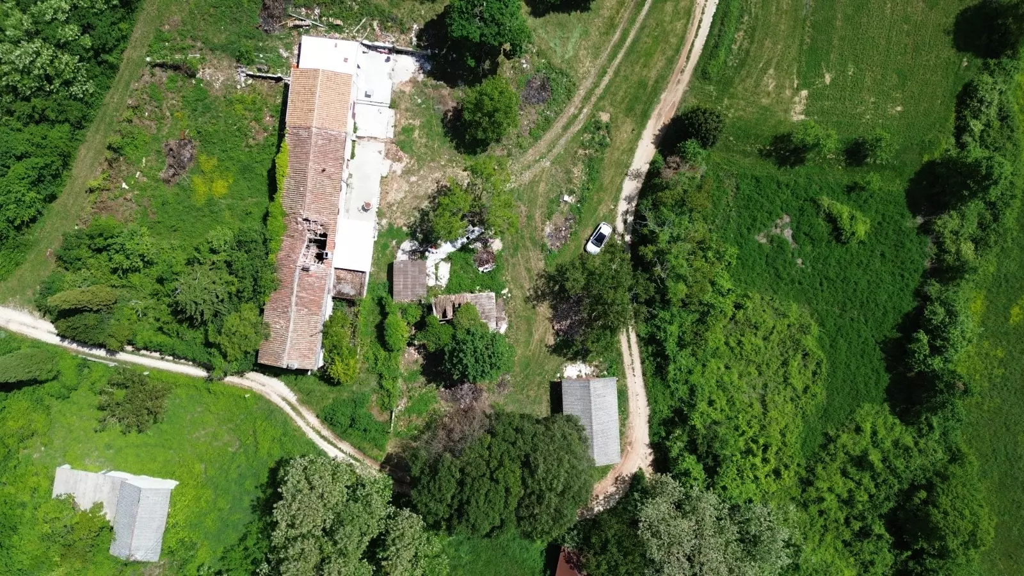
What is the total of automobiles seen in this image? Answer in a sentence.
In total, there is 1 automobile in the scene.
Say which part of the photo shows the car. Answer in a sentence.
The car sits in the center section of the image.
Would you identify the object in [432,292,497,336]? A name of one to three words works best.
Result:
shed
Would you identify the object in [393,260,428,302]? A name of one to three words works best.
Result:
shed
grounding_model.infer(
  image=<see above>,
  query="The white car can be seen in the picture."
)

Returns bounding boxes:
[587,222,611,254]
